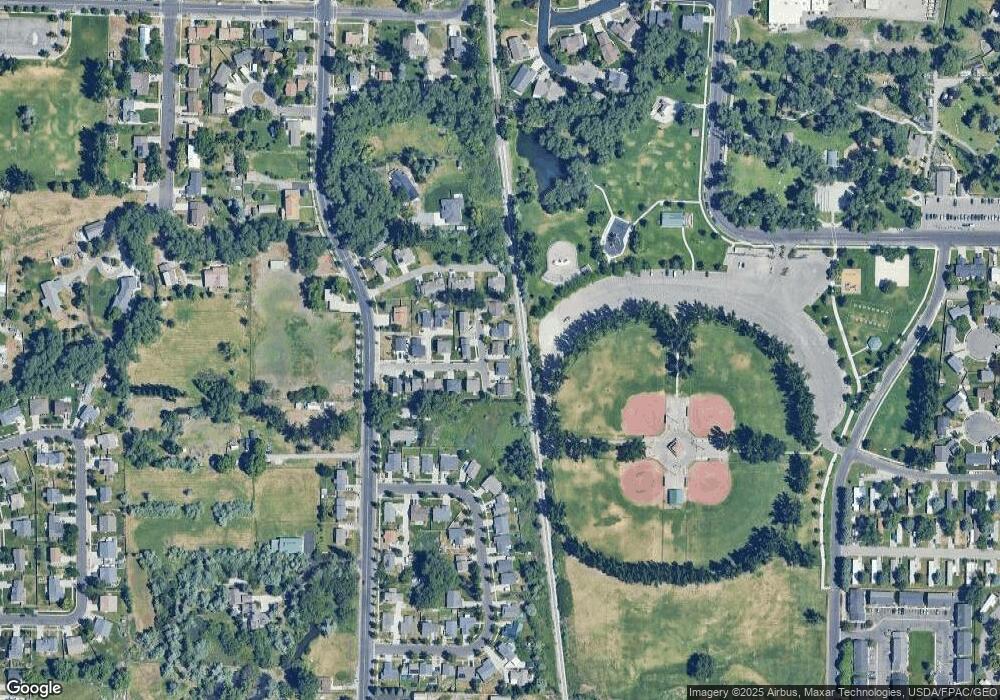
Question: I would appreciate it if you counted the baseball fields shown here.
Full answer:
Looking from above, you can make out 4 baseball fields.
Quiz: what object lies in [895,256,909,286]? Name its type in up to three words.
sports court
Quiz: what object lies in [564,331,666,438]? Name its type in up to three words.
baseball field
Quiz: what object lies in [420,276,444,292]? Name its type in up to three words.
house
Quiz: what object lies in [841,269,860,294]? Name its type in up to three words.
playground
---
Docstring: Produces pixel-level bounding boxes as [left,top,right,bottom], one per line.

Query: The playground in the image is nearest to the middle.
[604,218,631,256]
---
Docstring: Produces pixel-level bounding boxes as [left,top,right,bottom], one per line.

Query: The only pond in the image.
[515,127,571,192]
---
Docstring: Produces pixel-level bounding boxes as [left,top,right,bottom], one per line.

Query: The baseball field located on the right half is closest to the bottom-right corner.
[685,453,792,561]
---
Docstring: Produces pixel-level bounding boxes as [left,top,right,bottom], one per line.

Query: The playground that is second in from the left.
[651,97,676,123]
